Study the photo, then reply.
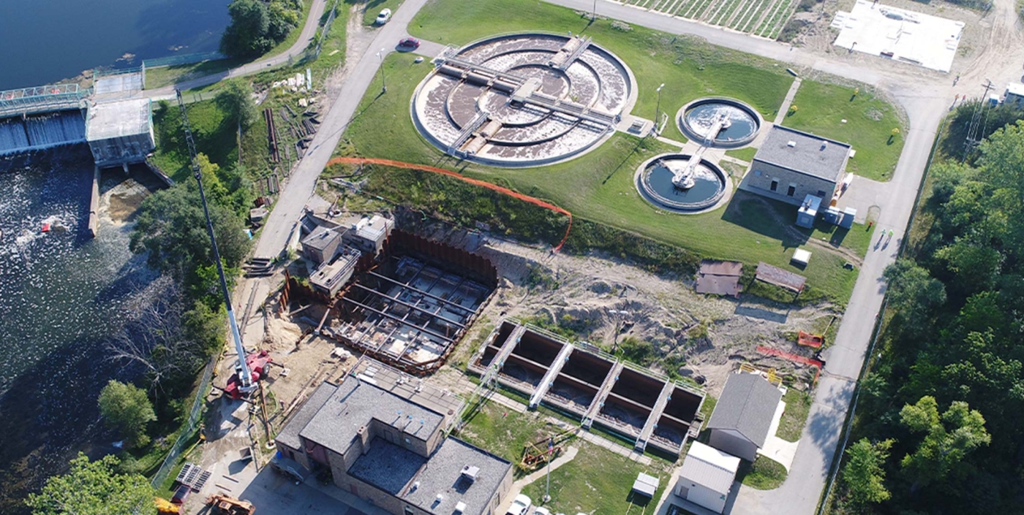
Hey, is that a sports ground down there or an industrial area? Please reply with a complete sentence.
This looks like an industrial area.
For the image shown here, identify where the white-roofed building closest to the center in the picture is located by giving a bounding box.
[353,214,394,248]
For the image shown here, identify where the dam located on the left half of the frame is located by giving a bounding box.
[0,109,90,160]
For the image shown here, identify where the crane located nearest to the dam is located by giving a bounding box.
[173,88,293,416]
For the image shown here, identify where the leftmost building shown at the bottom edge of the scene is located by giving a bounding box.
[276,368,513,515]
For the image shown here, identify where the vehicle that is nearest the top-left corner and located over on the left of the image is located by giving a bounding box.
[376,9,390,22]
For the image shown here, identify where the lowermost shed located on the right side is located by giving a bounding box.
[677,441,741,512]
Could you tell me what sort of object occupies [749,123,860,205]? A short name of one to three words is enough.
building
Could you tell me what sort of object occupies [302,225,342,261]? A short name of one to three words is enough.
building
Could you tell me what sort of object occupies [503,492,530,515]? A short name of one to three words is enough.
truck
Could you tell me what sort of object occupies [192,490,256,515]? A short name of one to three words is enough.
work vehicle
